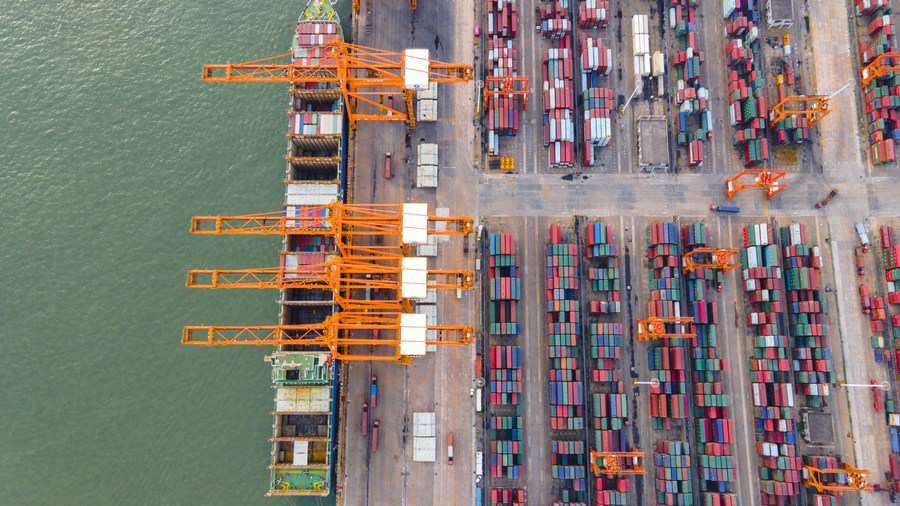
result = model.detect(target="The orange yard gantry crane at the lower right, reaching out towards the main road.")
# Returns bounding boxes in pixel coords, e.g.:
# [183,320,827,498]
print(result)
[796,459,873,490]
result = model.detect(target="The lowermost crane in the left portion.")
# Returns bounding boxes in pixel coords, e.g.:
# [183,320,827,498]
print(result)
[182,311,475,366]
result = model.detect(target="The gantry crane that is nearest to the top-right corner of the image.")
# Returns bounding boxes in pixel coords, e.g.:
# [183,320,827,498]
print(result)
[846,57,900,97]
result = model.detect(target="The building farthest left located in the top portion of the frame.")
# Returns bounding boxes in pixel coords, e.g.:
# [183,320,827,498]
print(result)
[635,118,668,172]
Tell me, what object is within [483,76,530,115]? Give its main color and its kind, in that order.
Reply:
red container crane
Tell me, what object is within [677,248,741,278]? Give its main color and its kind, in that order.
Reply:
orange container crane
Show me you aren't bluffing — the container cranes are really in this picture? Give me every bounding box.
[483,76,530,115]
[586,445,646,474]
[200,39,473,125]
[677,248,741,278]
[796,459,873,490]
[634,317,695,343]
[182,311,475,366]
[764,95,830,133]
[846,57,900,97]
[185,256,474,314]
[190,199,474,258]
[724,170,789,204]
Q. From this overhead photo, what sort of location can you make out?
port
